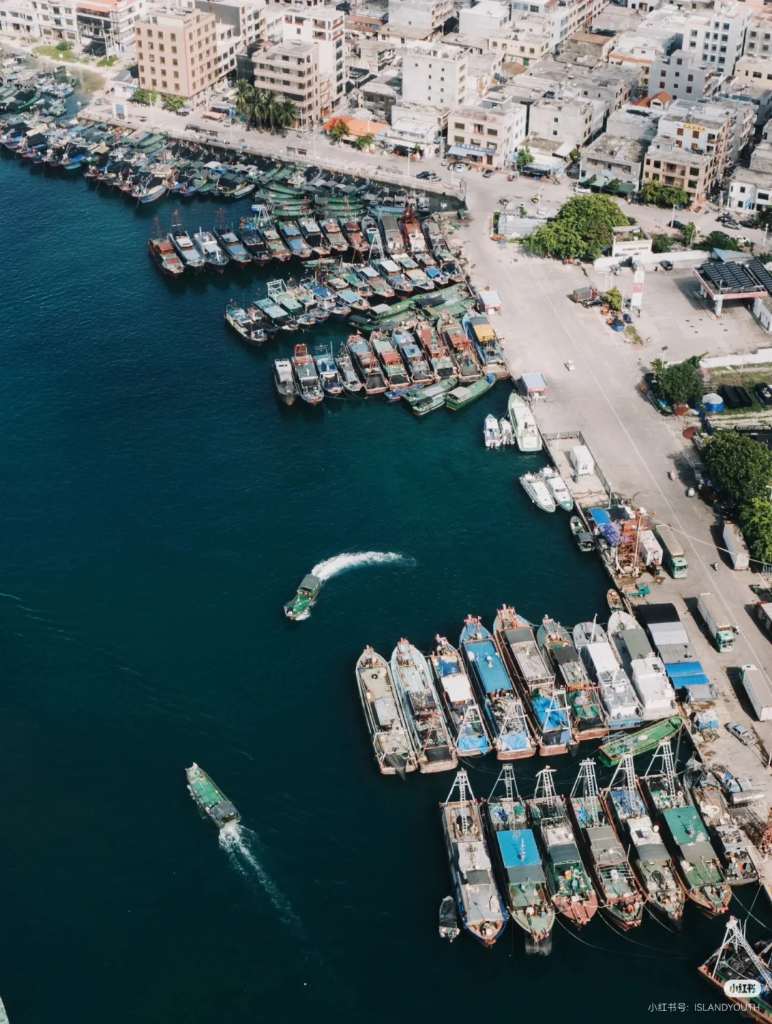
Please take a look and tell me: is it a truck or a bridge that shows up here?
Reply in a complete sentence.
Of the two, only a truck appears.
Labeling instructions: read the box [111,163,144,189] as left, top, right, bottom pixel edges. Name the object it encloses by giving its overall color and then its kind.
gray boat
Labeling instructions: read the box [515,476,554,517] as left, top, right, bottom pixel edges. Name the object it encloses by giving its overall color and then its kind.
white boat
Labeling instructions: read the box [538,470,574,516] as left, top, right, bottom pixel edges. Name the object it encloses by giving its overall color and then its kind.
white boat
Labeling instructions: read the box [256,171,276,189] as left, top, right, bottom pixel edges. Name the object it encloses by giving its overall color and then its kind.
gray boat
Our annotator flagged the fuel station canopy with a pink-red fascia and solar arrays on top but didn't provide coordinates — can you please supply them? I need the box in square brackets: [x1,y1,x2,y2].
[697,246,772,317]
